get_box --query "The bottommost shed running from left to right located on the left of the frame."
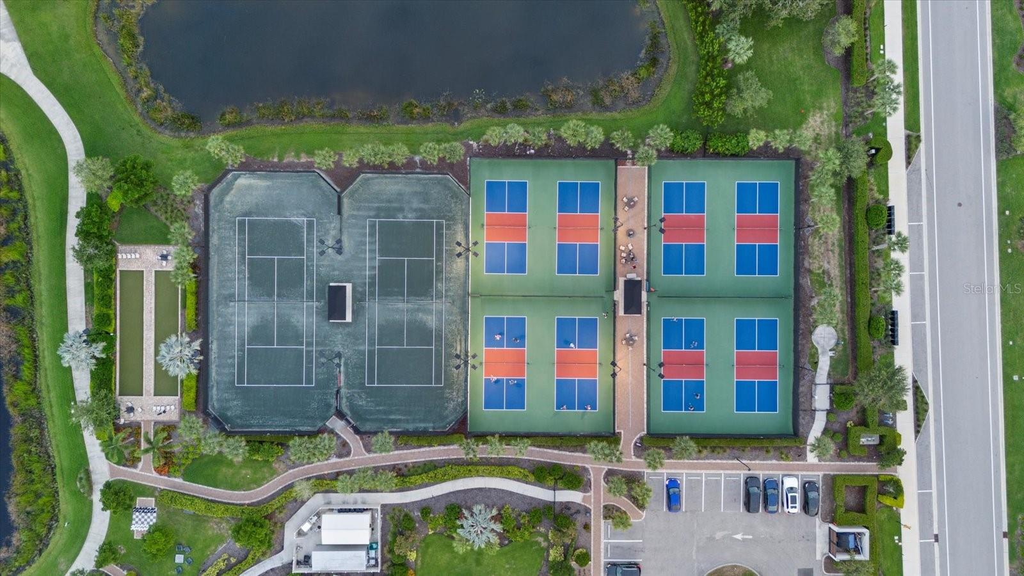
[312,545,368,571]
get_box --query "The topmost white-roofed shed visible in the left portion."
[321,510,373,544]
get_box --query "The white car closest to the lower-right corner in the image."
[782,476,801,513]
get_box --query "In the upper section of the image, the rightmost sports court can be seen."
[721,160,794,296]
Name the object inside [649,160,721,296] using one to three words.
sports court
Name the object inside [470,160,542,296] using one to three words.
sports court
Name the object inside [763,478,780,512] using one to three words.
car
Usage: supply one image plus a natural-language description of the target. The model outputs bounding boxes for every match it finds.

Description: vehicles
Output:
[606,562,641,576]
[744,476,762,512]
[763,478,780,512]
[802,481,821,515]
[782,476,801,513]
[665,478,681,511]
